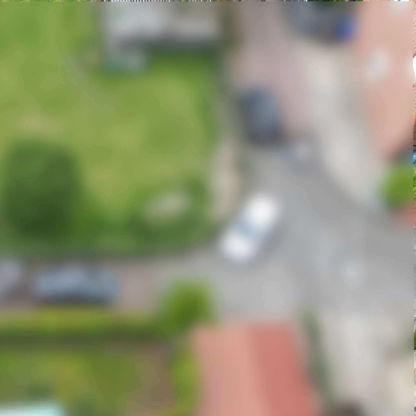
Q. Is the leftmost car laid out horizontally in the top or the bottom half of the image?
bottom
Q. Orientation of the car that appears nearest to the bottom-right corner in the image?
at an angle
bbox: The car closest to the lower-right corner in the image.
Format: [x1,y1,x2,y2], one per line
[215,196,274,267]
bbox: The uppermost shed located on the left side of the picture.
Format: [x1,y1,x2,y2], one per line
[96,3,222,64]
